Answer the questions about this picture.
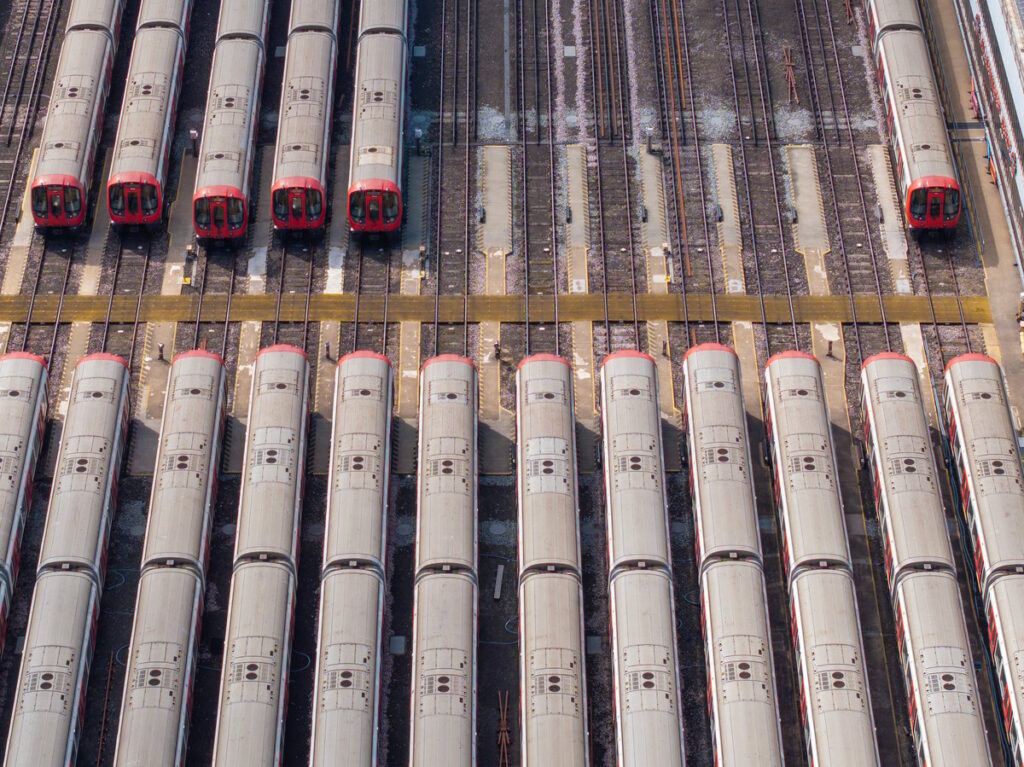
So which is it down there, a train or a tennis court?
train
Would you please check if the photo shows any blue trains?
No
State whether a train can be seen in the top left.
Yes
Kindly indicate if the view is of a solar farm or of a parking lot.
parking lot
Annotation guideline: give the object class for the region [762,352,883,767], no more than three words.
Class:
train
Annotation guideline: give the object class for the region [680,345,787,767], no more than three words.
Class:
train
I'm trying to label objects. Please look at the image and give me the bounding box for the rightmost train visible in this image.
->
[942,355,1024,767]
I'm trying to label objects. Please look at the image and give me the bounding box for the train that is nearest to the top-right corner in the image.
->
[862,0,962,240]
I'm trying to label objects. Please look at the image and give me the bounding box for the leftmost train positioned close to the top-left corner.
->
[30,0,128,240]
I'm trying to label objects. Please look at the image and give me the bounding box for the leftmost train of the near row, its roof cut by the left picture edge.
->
[0,354,52,665]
